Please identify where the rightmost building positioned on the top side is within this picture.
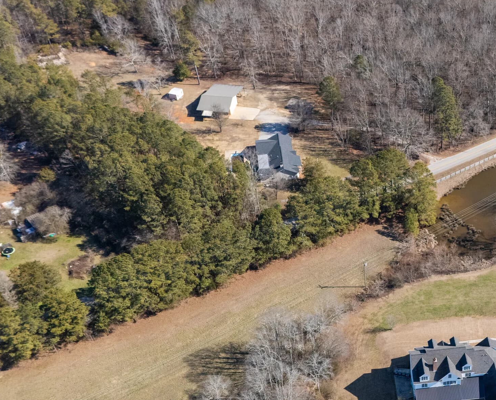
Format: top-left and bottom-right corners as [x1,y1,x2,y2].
[256,132,306,184]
